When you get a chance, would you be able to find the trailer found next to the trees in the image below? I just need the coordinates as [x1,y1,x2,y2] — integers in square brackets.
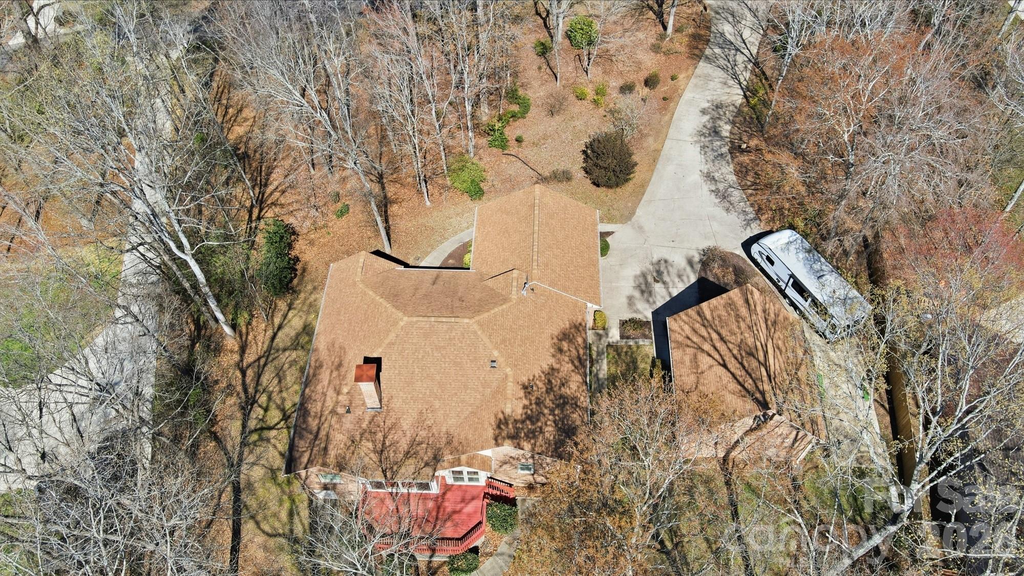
[749,229,872,349]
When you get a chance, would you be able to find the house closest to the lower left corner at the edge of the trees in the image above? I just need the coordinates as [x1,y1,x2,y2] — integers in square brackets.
[281,187,603,509]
